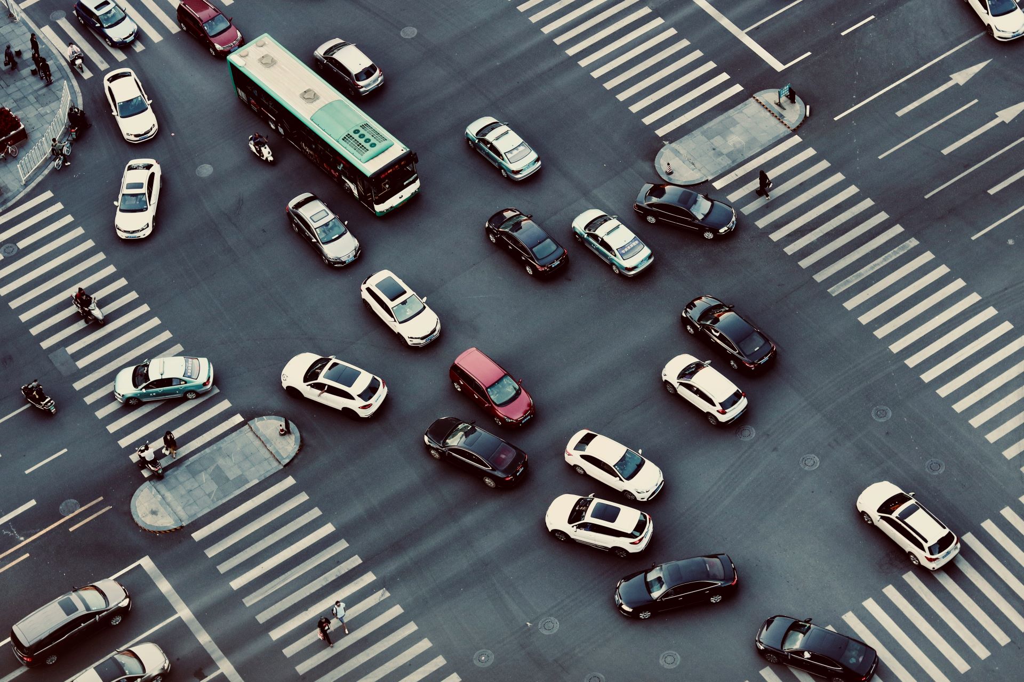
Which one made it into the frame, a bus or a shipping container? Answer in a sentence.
Looking from above, you can make out a bus.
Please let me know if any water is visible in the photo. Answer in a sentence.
No, the picture contains no water.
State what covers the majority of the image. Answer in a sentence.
The largest share of the image is taken up by paved ground.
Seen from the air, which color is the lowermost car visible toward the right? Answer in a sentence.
In this view, the lowermost car visible toward the right is black.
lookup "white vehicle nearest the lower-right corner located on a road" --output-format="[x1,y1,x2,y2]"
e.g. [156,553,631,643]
[856,481,962,573]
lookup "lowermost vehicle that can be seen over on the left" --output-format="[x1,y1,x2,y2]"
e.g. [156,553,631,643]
[68,639,173,682]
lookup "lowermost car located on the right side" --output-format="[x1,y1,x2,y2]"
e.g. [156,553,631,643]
[751,615,881,682]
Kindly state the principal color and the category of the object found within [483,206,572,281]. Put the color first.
black car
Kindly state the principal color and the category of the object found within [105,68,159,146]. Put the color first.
white car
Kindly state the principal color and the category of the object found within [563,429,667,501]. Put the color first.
white car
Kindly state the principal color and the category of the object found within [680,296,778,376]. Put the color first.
black car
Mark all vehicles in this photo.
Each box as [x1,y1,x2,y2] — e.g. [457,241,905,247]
[661,355,752,427]
[282,352,390,419]
[751,615,881,682]
[964,0,1024,43]
[284,189,364,270]
[358,269,441,348]
[483,206,572,281]
[68,639,173,682]
[680,296,778,376]
[114,154,165,241]
[611,553,741,620]
[563,429,667,501]
[172,0,246,58]
[110,356,217,406]
[72,292,103,324]
[856,481,962,573]
[69,0,141,47]
[464,115,541,182]
[22,381,54,414]
[446,345,536,429]
[7,579,134,670]
[542,491,655,558]
[315,38,385,98]
[132,444,164,478]
[572,208,655,279]
[631,181,740,240]
[421,417,531,489]
[228,32,426,216]
[105,68,159,146]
